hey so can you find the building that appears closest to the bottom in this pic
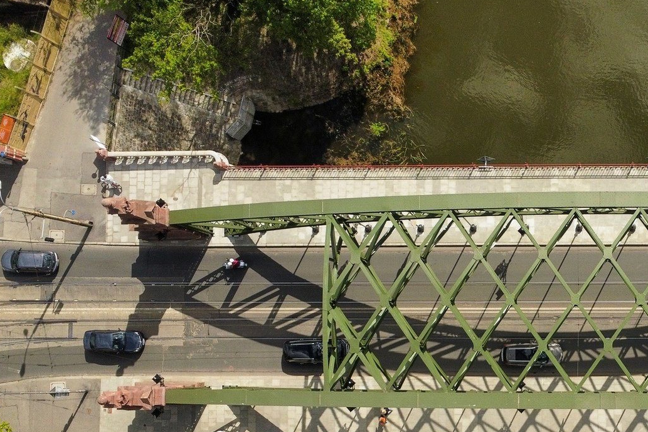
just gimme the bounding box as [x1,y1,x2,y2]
[0,130,30,160]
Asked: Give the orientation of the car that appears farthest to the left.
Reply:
from side to side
